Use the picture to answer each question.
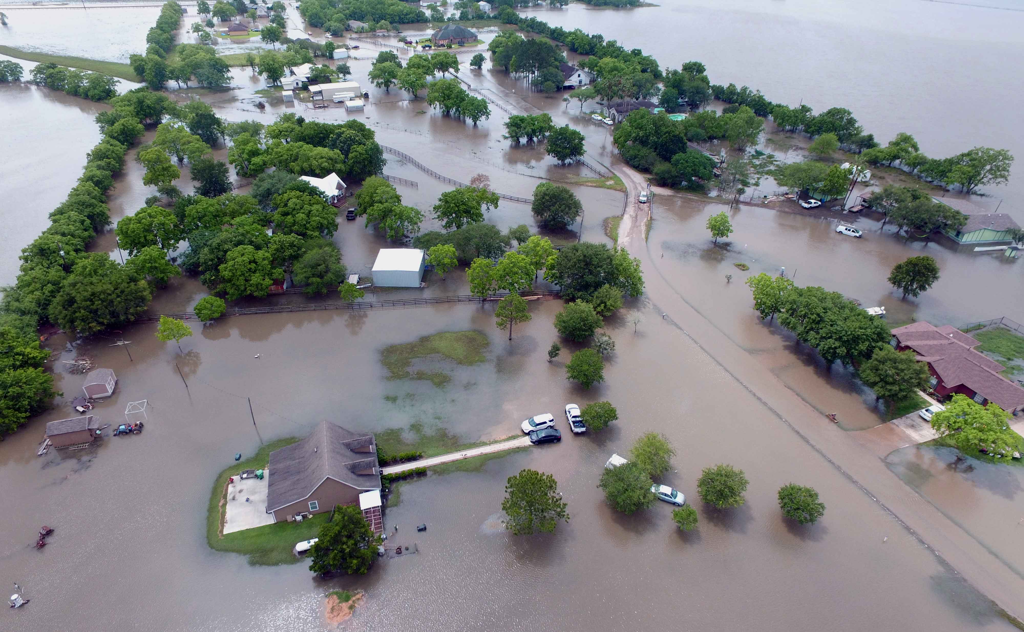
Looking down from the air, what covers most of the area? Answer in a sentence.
The scene is dominated by water.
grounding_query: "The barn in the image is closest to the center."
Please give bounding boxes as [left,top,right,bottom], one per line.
[371,246,428,288]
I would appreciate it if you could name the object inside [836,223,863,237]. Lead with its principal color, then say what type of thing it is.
white vehicle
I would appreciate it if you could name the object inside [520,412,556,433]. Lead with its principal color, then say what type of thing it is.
white car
